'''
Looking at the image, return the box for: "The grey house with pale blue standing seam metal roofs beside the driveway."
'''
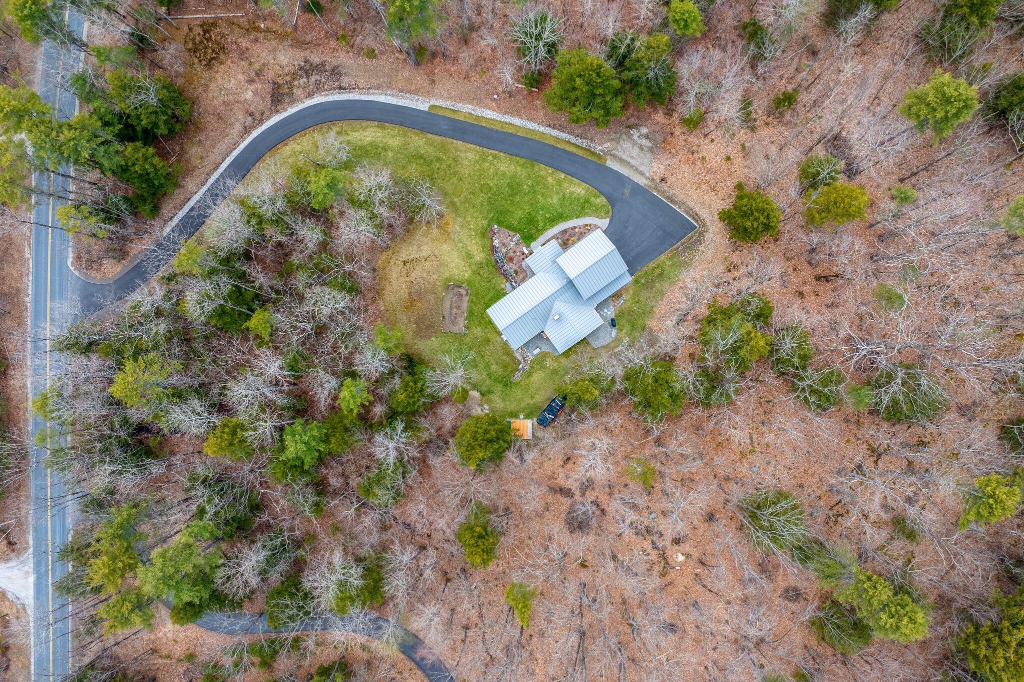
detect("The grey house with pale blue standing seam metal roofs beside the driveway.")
[487,228,632,353]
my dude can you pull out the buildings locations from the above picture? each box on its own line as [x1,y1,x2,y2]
[508,419,532,440]
[487,228,632,353]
